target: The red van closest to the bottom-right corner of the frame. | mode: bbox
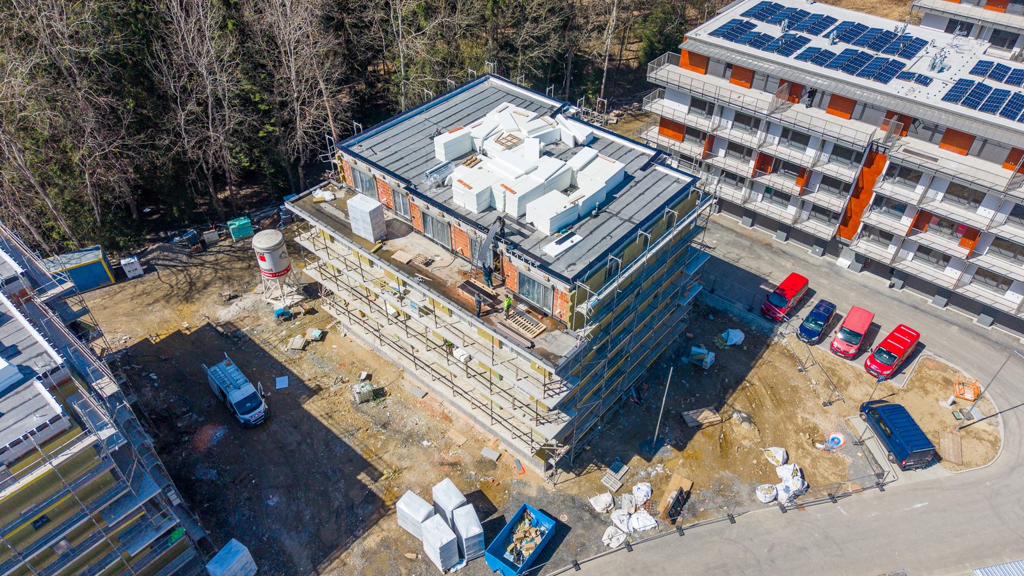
[865,322,920,382]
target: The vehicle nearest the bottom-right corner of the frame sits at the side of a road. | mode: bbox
[851,398,938,474]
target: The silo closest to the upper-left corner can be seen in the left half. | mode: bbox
[256,232,320,326]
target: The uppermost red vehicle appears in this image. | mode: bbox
[762,274,812,324]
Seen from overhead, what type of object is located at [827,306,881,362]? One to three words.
van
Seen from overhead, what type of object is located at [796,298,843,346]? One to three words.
car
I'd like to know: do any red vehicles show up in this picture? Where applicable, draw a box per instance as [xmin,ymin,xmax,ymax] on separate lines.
[865,322,920,382]
[762,274,812,324]
[827,306,881,362]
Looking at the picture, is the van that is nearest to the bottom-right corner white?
No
